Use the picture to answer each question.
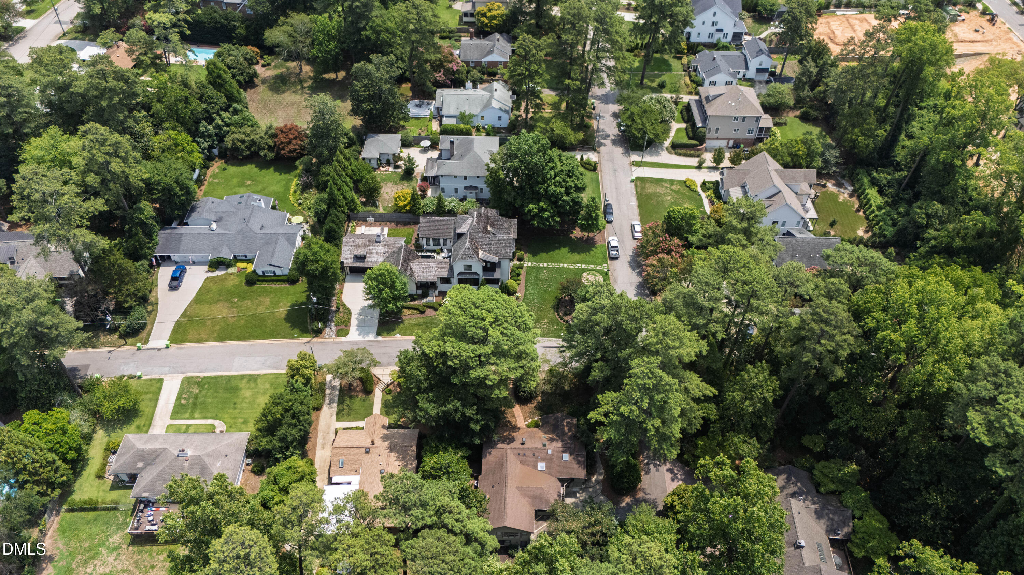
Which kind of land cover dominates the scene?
trees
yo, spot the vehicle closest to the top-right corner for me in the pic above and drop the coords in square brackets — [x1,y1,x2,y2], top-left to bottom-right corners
[974,6,1001,24]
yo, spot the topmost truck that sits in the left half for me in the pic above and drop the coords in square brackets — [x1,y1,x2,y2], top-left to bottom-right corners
[167,267,188,290]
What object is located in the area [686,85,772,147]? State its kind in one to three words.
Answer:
house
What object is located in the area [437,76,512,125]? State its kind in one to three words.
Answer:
house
